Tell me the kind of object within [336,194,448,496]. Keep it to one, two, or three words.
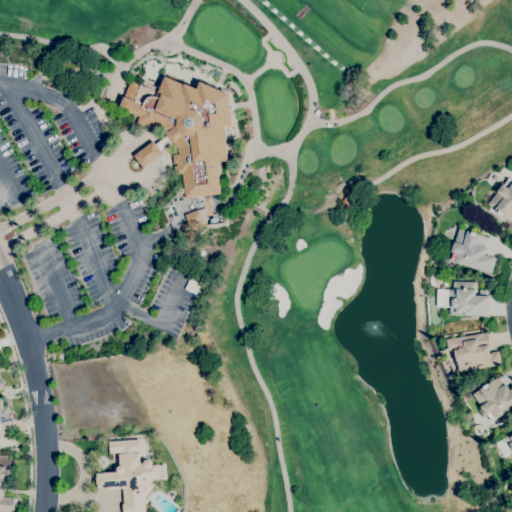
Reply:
pond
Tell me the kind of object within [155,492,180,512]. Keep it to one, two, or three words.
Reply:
swimming pool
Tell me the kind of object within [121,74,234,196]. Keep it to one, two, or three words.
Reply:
building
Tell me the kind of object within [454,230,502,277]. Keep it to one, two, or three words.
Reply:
house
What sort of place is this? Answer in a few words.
golf course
